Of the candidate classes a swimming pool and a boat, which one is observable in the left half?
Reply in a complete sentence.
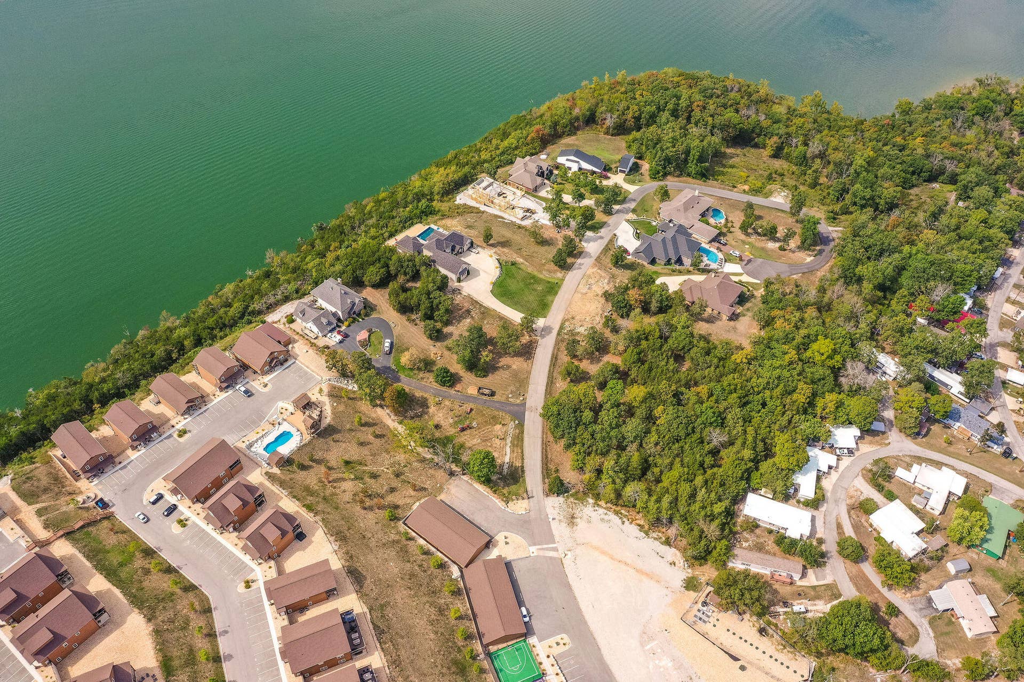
It is a swimming pool that can be seen in the left half.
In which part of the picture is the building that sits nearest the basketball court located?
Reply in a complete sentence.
Look in the bottom portion of the view to spot the building that sits nearest the basketball court.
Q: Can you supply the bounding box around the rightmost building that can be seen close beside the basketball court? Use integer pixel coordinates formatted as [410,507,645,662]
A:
[463,556,526,648]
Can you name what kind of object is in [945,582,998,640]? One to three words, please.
house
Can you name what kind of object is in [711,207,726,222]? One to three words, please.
swimming pool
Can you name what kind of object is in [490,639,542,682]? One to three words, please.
basketball court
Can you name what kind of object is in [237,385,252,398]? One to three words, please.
vehicle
